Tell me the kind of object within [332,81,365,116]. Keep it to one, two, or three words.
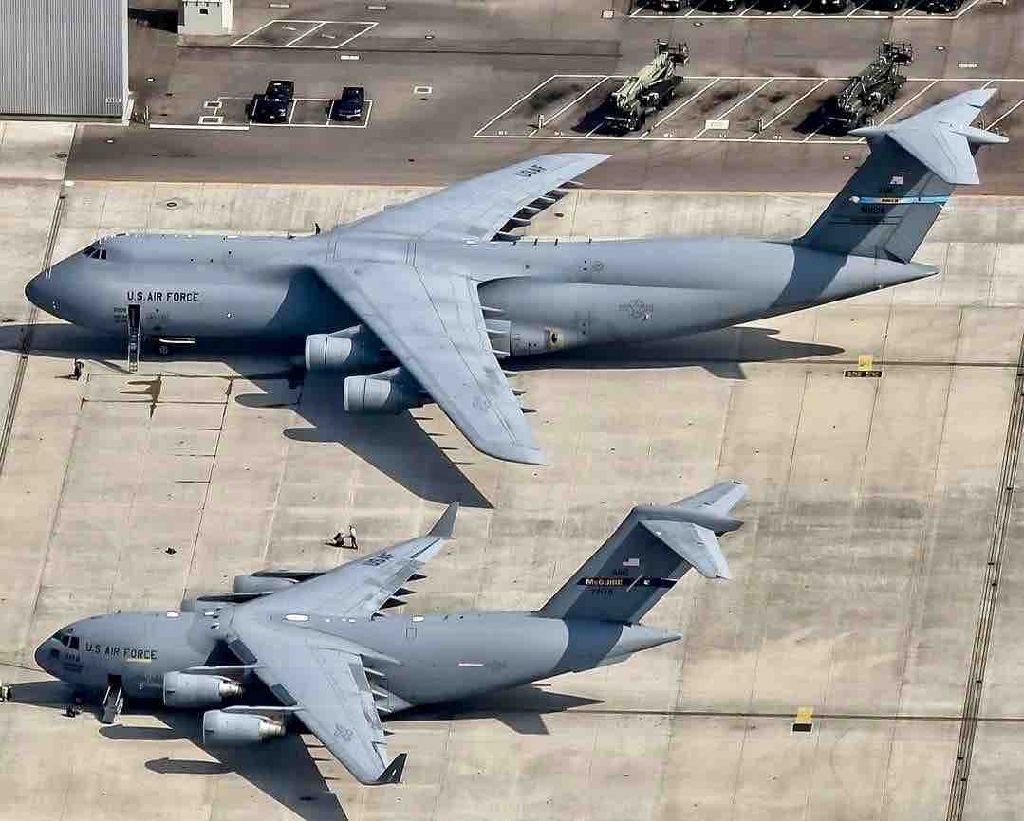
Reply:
car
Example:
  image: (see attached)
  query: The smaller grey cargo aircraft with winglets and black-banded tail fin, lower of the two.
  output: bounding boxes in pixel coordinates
[34,483,748,781]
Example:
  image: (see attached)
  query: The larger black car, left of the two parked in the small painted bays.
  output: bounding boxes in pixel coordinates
[260,75,297,117]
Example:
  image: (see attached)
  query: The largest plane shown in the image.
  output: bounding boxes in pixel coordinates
[24,87,1009,466]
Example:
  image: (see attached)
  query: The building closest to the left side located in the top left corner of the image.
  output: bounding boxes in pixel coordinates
[0,0,141,122]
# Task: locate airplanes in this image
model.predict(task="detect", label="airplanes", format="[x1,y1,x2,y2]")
[34,483,748,781]
[24,87,1009,466]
